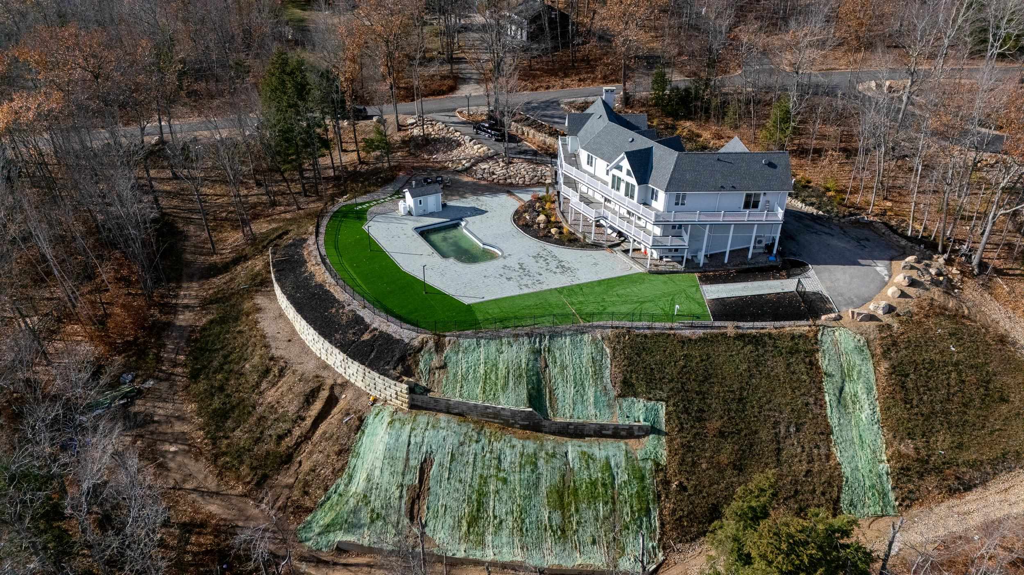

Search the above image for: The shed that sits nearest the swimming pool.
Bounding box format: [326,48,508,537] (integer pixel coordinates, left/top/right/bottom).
[404,176,443,216]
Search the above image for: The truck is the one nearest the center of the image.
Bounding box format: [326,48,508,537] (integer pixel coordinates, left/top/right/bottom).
[469,119,514,141]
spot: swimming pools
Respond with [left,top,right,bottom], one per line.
[412,218,505,264]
